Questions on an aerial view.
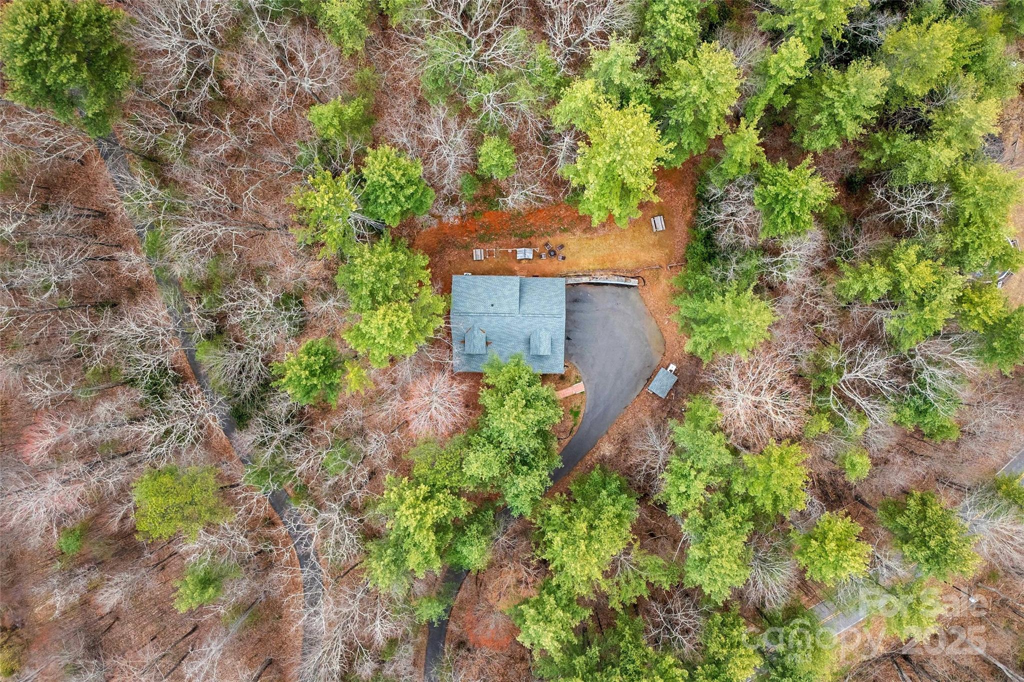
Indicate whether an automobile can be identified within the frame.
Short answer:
No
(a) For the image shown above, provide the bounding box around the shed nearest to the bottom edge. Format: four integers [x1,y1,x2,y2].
[647,367,677,399]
